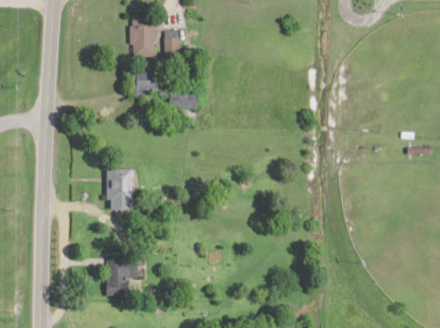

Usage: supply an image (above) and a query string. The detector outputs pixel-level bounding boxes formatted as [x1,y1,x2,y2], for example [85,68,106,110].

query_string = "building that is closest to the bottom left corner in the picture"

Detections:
[108,260,146,296]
